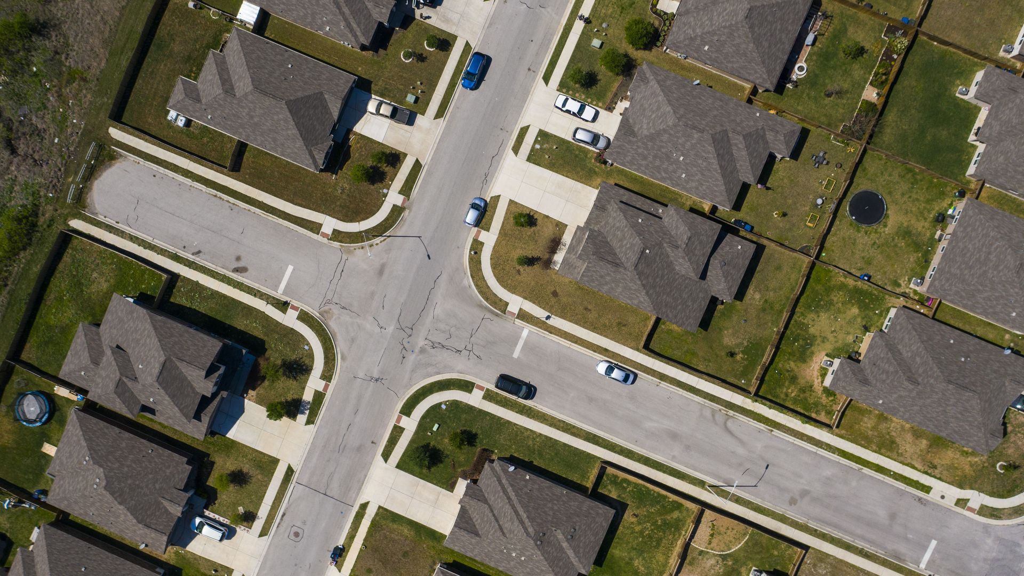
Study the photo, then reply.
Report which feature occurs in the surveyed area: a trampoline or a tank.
trampoline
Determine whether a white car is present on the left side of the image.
Yes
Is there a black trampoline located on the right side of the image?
Yes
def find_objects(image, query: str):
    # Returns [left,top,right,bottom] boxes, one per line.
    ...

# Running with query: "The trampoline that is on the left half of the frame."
[11,391,53,427]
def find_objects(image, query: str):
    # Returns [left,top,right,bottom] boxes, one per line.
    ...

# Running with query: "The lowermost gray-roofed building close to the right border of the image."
[823,305,1024,454]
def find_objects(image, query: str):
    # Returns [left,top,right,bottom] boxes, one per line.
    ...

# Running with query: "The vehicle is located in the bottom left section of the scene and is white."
[189,517,228,545]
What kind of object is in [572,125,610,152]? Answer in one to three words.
car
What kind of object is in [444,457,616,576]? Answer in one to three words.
house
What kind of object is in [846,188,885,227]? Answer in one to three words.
trampoline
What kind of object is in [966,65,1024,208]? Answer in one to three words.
house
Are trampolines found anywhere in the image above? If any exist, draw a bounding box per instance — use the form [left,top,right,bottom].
[846,188,885,227]
[11,391,53,427]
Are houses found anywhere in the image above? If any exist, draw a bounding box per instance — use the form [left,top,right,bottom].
[918,197,1024,334]
[604,61,801,210]
[46,408,193,558]
[663,0,813,91]
[966,65,1024,208]
[432,559,464,576]
[823,305,1024,454]
[168,26,358,173]
[8,520,167,576]
[557,182,757,332]
[444,457,616,576]
[59,293,230,440]
[246,0,396,51]
[1004,26,1024,77]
